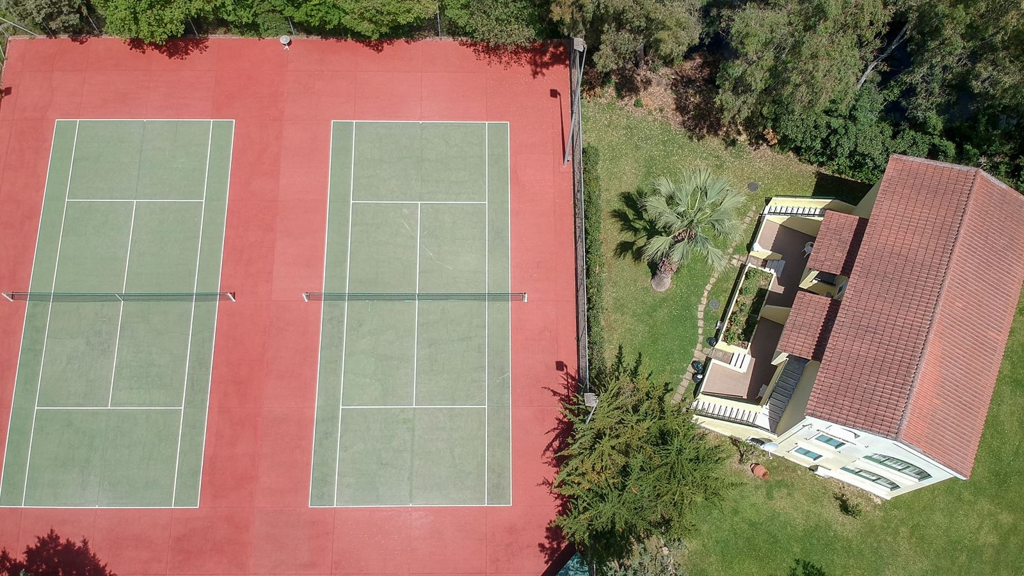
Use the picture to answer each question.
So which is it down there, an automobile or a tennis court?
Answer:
tennis court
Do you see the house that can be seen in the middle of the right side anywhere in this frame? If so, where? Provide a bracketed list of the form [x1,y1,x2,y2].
[688,148,1024,500]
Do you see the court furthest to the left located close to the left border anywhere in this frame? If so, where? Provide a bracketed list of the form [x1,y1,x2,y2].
[0,38,289,576]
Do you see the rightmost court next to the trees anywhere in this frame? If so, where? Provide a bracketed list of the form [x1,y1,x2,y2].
[250,40,585,576]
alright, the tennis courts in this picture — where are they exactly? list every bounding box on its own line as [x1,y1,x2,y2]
[0,38,289,576]
[250,40,585,576]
